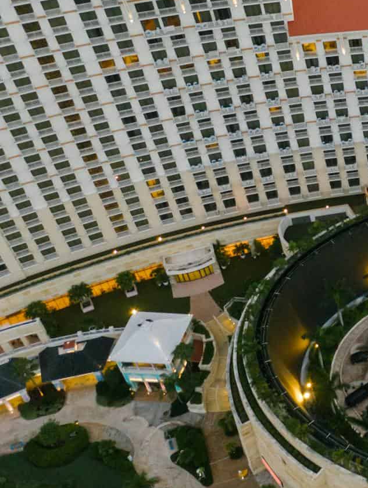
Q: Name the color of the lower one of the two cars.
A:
black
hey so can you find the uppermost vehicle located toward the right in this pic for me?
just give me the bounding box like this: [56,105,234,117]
[347,348,368,363]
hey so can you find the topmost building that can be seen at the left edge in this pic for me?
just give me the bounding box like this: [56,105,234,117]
[0,317,54,359]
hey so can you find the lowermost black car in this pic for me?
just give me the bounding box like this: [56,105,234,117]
[343,383,368,407]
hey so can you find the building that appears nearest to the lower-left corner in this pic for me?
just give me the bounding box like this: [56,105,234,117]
[0,359,42,418]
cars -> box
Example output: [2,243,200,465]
[343,383,368,407]
[347,348,368,363]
